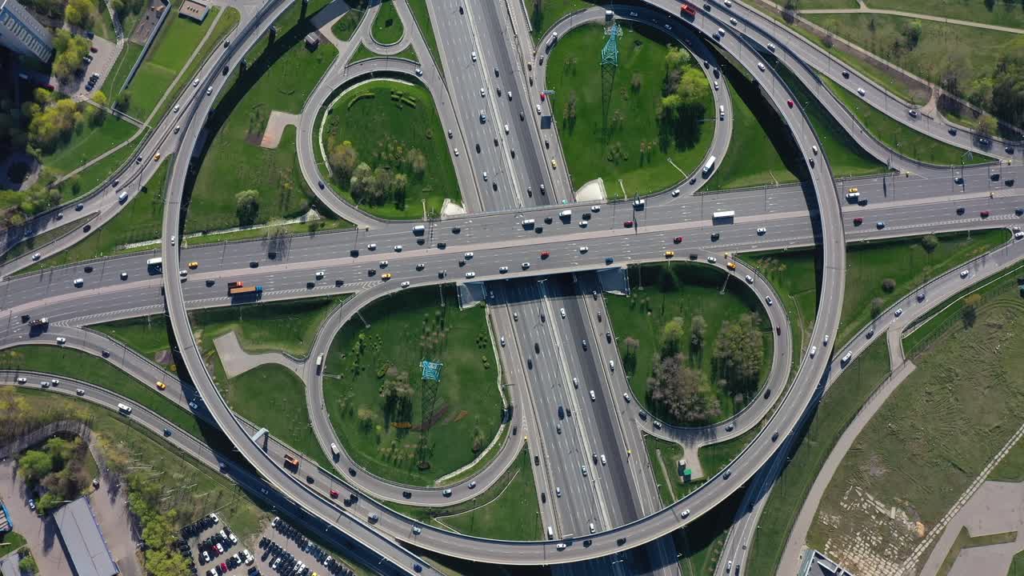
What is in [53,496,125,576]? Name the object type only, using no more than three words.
building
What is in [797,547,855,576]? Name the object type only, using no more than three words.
building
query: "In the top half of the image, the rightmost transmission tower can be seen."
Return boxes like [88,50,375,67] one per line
[599,26,624,68]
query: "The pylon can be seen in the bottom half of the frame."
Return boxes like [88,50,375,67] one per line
[415,361,441,383]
